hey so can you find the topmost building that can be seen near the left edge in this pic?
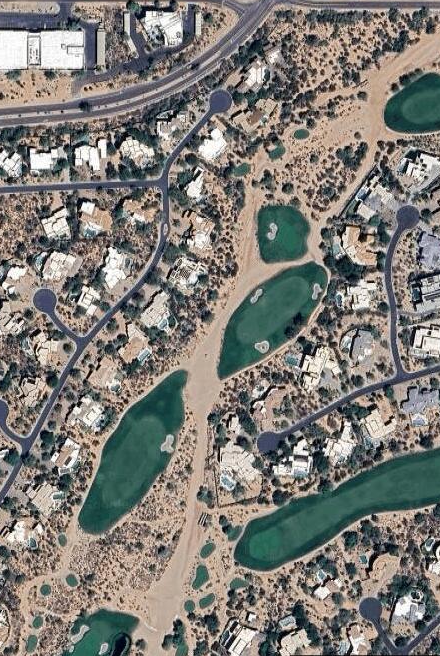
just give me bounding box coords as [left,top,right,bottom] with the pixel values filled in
[0,29,84,69]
